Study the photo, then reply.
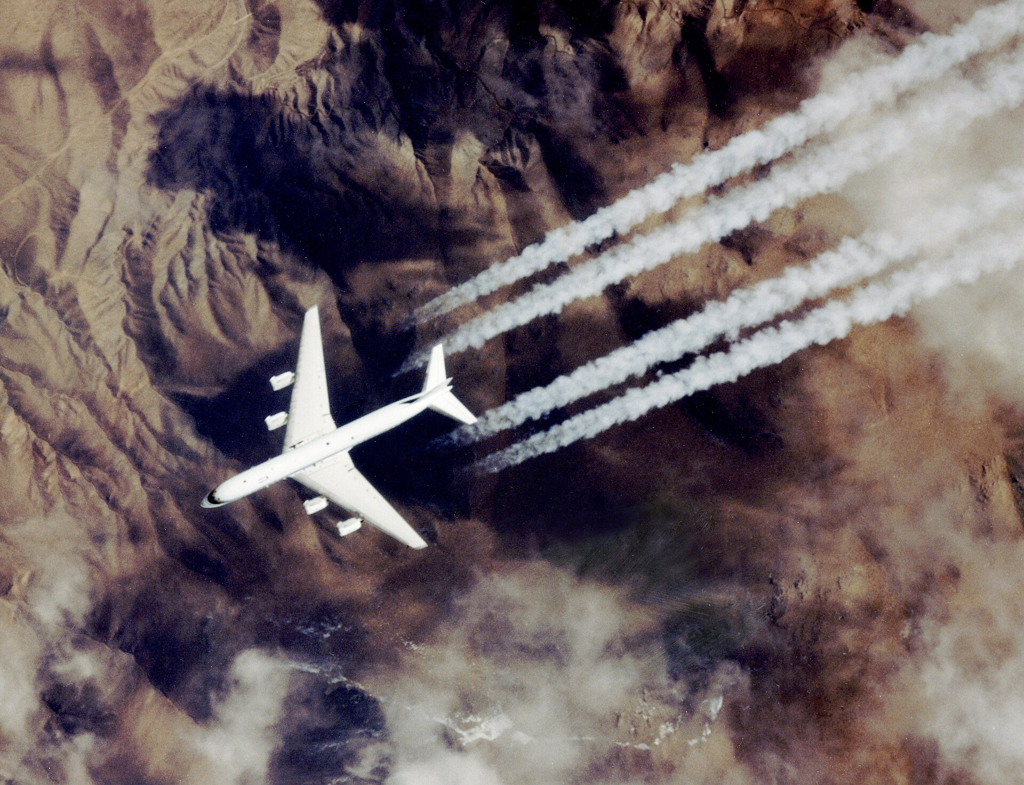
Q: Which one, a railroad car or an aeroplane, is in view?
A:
aeroplane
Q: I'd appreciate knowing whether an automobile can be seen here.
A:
No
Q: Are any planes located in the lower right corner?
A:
No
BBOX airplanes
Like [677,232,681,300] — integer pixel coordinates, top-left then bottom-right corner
[203,309,475,547]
